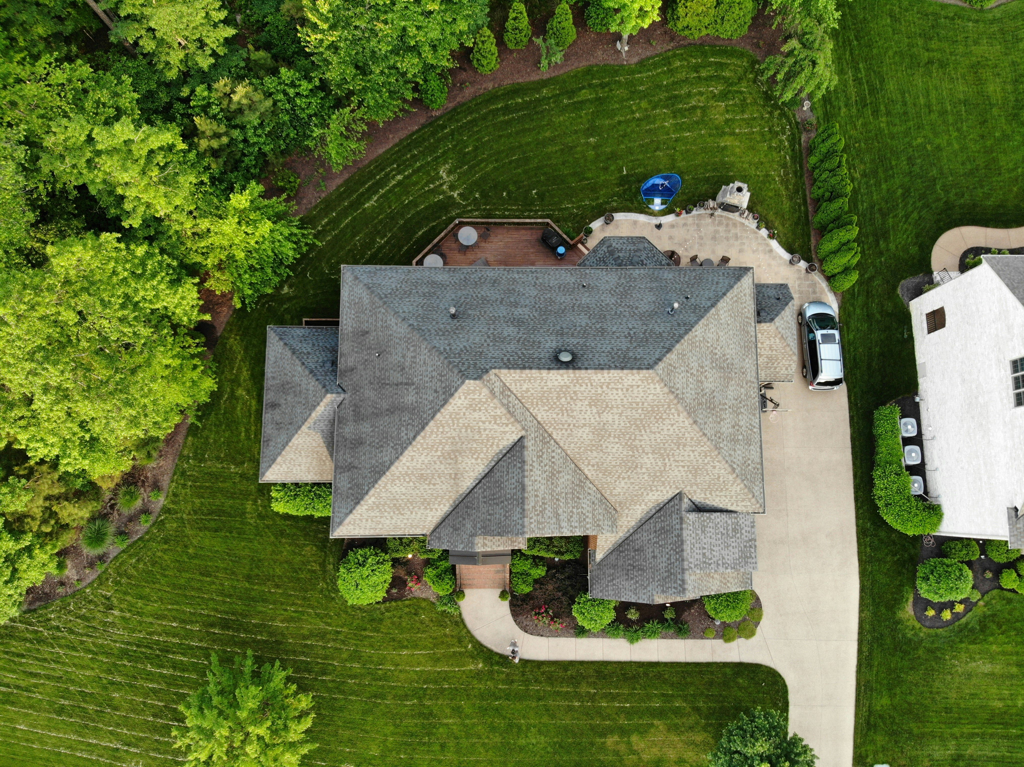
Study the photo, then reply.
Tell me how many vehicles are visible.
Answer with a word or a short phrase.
one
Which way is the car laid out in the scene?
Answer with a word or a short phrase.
up and down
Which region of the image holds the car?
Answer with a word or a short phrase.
right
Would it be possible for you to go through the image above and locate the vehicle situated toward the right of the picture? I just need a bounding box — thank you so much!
[800,304,847,394]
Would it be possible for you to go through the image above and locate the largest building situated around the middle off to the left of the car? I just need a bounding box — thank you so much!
[257,234,799,604]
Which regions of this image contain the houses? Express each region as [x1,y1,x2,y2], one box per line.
[257,234,799,604]
[910,259,1024,550]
